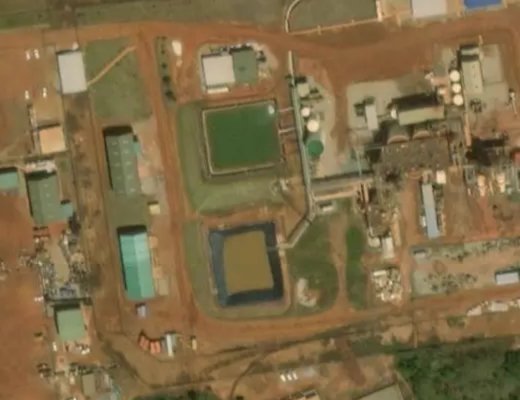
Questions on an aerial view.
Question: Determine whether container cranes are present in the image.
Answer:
No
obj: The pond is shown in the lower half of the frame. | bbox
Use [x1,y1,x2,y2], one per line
[209,221,285,307]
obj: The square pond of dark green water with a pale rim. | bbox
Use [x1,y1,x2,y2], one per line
[202,99,283,175]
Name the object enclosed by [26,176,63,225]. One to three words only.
building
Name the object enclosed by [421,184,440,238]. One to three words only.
building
